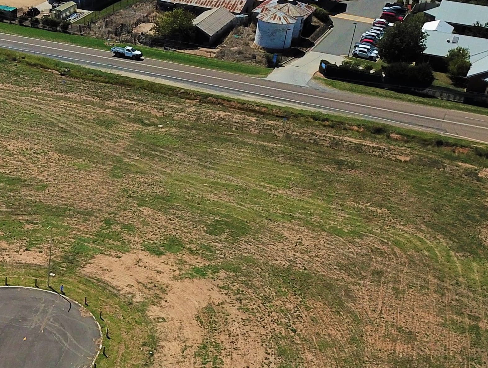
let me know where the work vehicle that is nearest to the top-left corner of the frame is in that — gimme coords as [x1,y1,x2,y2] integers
[22,5,46,18]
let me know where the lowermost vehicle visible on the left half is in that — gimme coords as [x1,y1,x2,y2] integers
[110,43,146,60]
